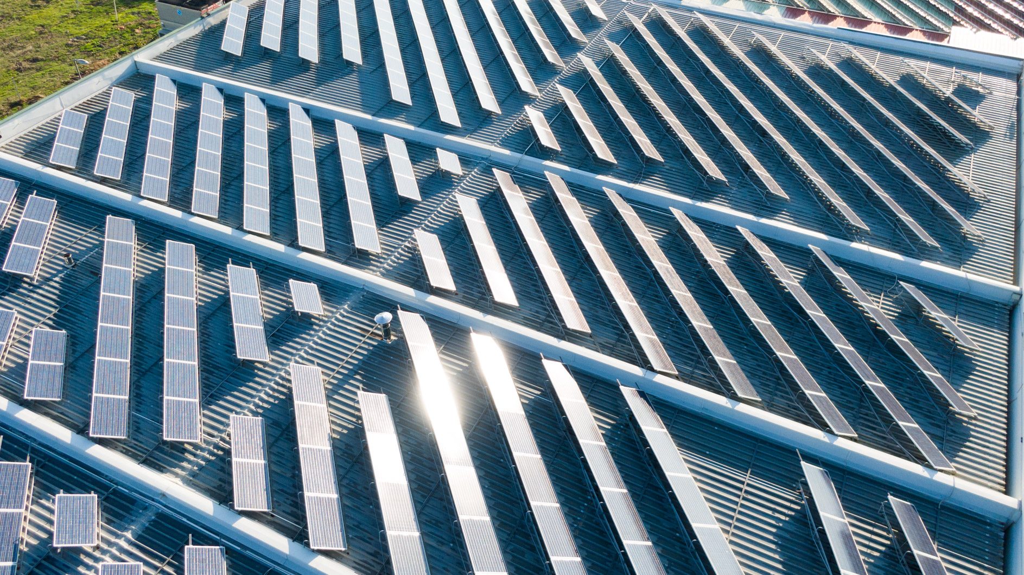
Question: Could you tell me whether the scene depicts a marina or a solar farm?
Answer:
solar farm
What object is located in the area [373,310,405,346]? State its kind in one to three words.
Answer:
chimney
